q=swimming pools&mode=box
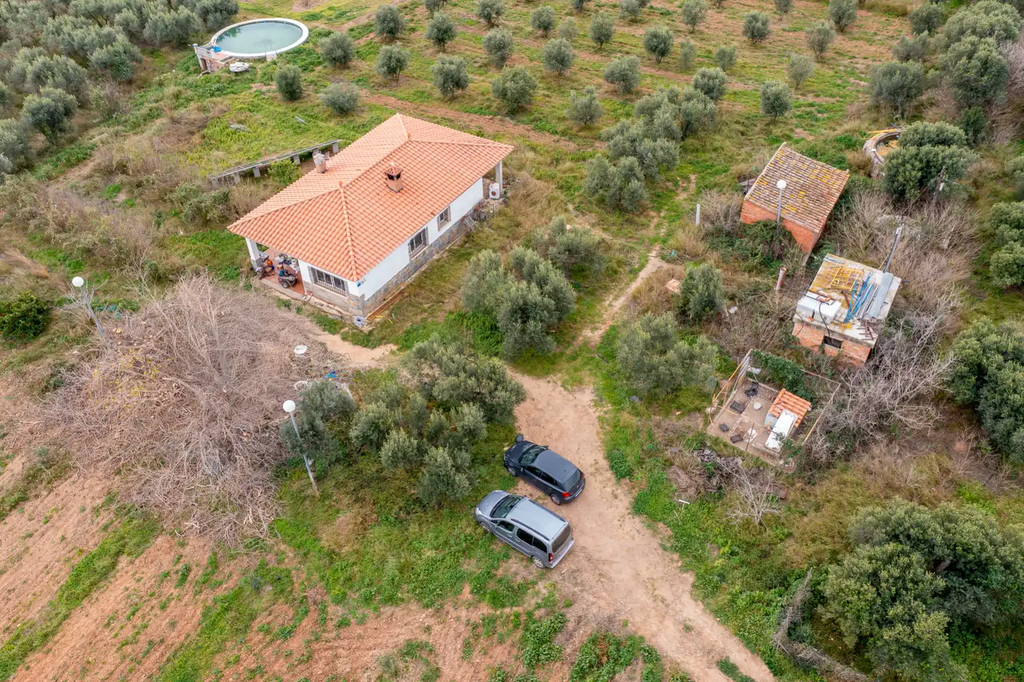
[214,18,308,64]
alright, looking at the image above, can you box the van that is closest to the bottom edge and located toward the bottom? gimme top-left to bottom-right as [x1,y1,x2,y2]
[473,487,576,570]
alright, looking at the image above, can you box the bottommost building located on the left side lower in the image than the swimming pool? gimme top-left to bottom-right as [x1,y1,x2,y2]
[227,112,514,319]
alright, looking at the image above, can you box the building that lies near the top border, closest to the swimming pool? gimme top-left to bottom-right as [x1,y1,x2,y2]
[179,33,236,69]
